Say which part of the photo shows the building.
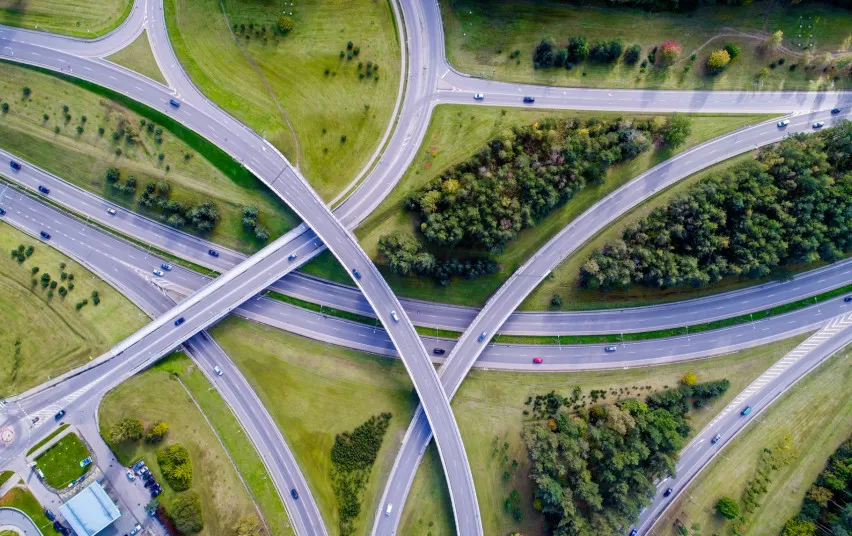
bottom left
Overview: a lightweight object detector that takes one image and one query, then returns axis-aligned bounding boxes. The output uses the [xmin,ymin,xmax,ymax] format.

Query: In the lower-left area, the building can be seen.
[58,479,123,536]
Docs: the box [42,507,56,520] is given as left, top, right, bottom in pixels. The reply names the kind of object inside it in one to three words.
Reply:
vehicle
